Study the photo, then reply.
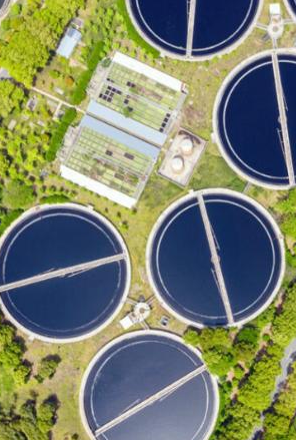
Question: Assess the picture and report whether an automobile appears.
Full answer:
No, no automobile is visible in the view.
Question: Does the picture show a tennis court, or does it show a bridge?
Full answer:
Visible in the photo is a bridge.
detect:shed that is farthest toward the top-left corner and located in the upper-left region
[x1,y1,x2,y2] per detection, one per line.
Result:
[56,23,90,61]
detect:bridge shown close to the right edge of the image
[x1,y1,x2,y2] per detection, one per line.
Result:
[273,48,295,189]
